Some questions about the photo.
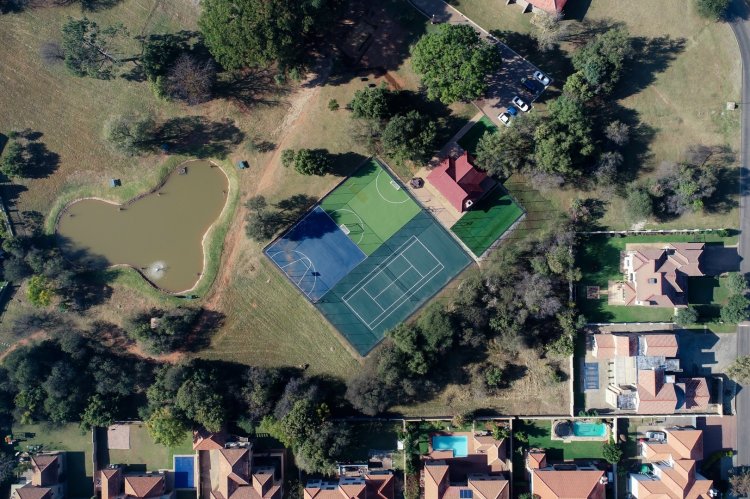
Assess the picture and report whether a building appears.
Yes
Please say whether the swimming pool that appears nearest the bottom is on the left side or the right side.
left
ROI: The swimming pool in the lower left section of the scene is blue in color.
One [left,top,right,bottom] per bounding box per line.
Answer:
[172,455,196,489]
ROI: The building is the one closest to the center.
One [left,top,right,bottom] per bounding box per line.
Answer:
[426,151,489,213]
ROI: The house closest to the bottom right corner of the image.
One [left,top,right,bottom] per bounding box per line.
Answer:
[631,424,713,499]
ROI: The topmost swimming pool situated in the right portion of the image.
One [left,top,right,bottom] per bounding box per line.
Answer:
[584,361,600,390]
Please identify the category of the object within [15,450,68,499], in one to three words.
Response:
house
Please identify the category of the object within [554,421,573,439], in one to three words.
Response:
swimming pool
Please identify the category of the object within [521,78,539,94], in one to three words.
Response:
car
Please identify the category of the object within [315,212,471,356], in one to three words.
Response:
tennis court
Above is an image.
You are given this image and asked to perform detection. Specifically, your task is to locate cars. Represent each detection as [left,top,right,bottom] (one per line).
[521,78,539,94]
[497,112,512,127]
[505,105,519,118]
[533,70,552,86]
[512,96,529,111]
